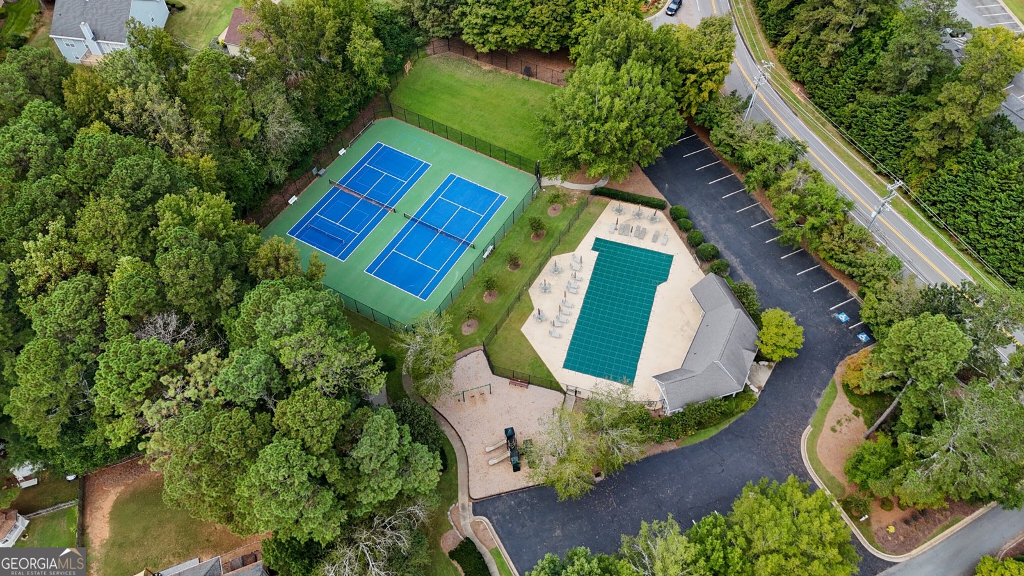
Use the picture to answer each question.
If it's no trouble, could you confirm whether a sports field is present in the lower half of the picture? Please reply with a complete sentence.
No, no sports field appears in the lower half of the picture.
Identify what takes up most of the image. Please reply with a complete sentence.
What you mostly see from above here is trees.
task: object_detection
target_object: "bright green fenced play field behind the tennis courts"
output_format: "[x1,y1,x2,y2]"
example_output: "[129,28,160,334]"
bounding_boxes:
[394,53,631,176]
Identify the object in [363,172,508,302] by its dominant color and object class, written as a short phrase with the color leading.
blue tennis court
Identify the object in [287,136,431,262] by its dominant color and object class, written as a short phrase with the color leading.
blue tennis court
